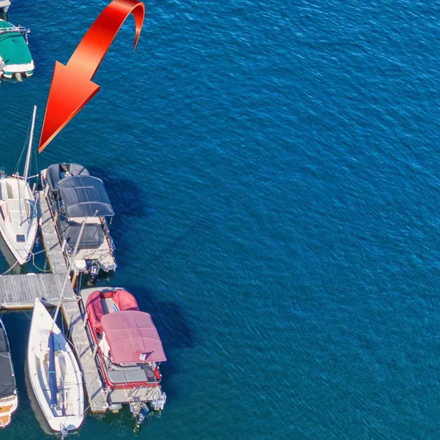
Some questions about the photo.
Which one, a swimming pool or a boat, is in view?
boat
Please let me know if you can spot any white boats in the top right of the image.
No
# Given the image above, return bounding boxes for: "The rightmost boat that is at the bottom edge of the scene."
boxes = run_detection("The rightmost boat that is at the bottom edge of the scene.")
[75,295,166,423]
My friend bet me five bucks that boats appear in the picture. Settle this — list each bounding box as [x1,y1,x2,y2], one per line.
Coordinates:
[0,317,29,429]
[0,20,35,84]
[0,106,38,282]
[41,166,118,285]
[75,295,166,423]
[26,214,94,440]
